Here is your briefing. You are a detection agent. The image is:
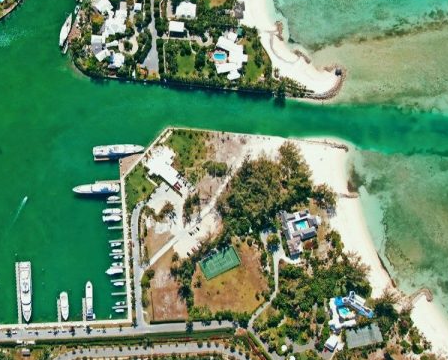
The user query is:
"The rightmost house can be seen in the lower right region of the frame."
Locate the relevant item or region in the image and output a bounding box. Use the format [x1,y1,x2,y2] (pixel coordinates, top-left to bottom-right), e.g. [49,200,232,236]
[350,292,377,319]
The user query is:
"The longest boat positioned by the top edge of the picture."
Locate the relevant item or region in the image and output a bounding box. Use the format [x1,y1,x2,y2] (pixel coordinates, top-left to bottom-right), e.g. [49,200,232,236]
[59,14,74,48]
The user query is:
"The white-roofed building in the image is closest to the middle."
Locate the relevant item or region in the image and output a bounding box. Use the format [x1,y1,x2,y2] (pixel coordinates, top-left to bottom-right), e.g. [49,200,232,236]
[149,143,181,190]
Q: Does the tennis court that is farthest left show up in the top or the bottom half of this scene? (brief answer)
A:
bottom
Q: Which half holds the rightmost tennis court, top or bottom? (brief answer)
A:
bottom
